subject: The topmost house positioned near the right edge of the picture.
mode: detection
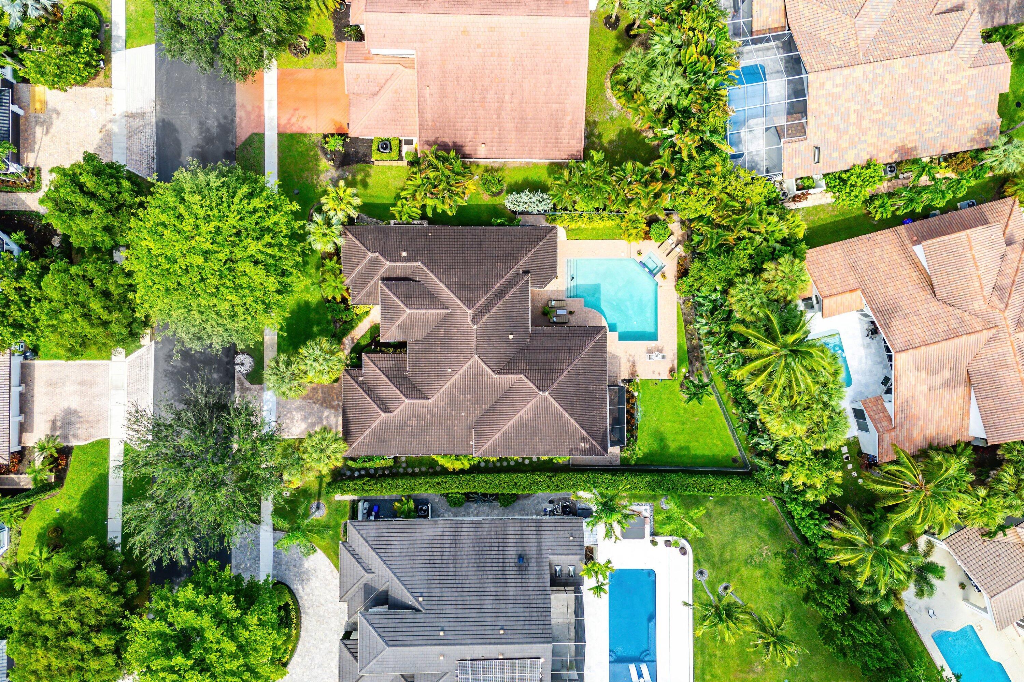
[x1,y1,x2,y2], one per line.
[746,0,1014,181]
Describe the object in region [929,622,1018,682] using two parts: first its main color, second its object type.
blue swimming pool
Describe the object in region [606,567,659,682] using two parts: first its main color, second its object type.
blue swimming pool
